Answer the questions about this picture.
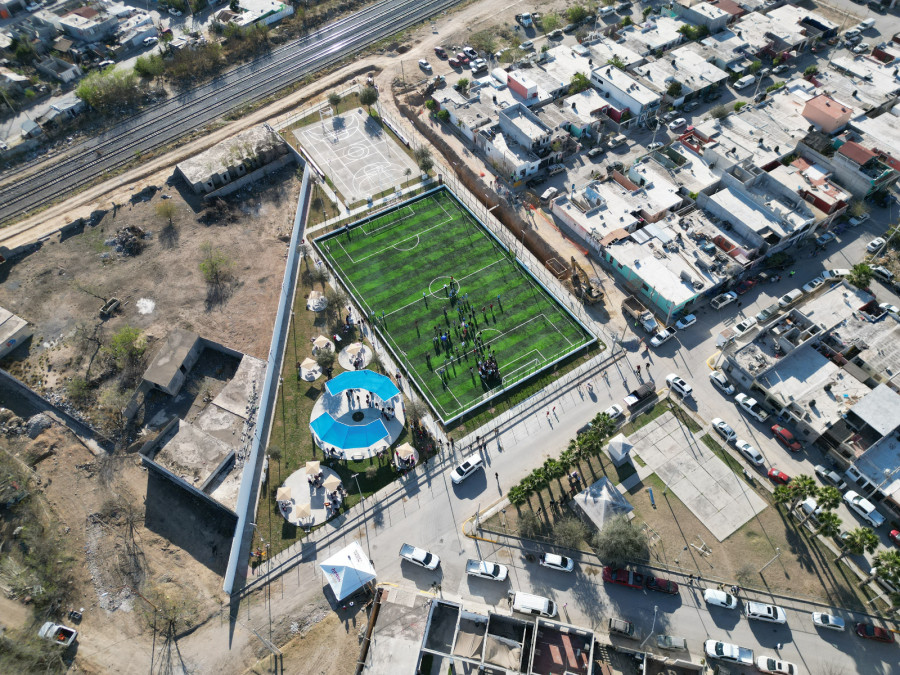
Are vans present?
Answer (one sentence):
Yes, this view includes a van.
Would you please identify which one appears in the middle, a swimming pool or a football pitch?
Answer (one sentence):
Visible in the middle is a football pitch.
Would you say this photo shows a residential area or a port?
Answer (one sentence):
This looks like a residential area.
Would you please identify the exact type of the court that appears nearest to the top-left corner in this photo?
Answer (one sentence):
The court that appears nearest to the top-left corner appears to be a basketball court.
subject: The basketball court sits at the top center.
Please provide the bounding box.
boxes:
[293,107,421,202]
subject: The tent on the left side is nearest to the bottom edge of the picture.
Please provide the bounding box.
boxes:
[320,541,377,605]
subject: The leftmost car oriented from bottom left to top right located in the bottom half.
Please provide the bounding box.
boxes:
[448,451,486,483]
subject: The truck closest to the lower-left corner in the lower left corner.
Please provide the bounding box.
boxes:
[36,621,80,645]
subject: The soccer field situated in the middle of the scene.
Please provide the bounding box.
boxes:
[314,185,597,428]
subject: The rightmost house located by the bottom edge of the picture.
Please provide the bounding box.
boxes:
[529,615,594,675]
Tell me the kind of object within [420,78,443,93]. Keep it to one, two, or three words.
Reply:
work vehicle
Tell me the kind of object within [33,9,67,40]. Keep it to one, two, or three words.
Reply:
house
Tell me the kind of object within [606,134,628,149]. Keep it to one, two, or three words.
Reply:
car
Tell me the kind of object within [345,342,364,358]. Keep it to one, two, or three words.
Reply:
umbrella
